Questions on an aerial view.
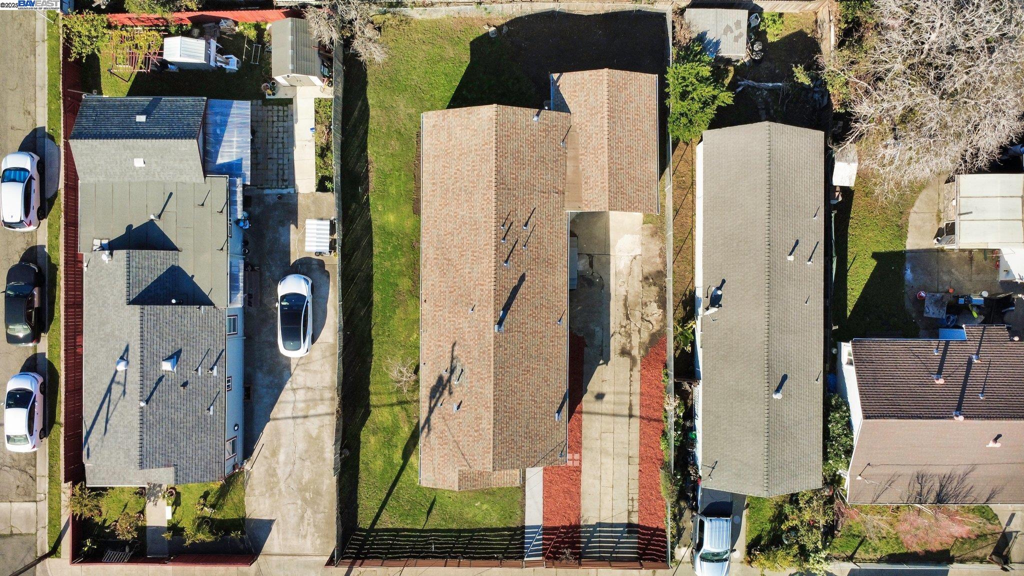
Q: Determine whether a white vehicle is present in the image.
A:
Yes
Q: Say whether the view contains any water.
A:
No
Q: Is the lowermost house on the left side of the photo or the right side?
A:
right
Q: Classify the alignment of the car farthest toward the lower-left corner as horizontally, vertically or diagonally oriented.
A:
vertically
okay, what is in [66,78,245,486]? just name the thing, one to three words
house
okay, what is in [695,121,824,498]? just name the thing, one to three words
house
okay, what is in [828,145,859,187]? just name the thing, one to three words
shed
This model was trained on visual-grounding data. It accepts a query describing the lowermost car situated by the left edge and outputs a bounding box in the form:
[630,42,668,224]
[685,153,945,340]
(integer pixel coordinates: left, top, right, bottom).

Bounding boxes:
[5,371,47,453]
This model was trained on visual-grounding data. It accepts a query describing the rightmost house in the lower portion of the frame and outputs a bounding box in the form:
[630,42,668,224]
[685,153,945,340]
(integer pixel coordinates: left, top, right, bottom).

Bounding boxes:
[837,324,1024,505]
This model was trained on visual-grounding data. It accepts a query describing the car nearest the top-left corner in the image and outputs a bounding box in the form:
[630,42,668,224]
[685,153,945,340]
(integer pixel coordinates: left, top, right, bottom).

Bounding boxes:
[1,152,46,232]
